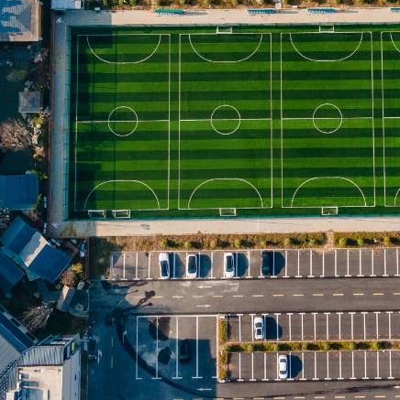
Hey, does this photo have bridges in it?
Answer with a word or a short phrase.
No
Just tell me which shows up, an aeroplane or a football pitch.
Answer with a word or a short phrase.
football pitch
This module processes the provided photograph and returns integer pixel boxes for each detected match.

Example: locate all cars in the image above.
[160,253,169,277]
[180,338,190,362]
[278,354,288,378]
[186,253,197,276]
[223,253,234,277]
[253,316,264,338]
[262,253,272,276]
